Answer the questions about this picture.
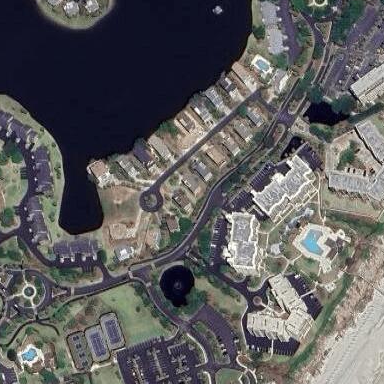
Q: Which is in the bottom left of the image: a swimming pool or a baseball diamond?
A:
swimming pool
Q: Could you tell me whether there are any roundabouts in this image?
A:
Yes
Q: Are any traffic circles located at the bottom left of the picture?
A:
Yes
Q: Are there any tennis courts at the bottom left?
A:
Yes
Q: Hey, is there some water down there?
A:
Yes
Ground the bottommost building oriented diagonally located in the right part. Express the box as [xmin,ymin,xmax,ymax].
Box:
[269,275,311,320]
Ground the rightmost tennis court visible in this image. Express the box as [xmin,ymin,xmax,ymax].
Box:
[102,316,126,354]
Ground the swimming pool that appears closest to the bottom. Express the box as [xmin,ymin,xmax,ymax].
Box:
[18,344,44,365]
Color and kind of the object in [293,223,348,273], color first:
white swimming pool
